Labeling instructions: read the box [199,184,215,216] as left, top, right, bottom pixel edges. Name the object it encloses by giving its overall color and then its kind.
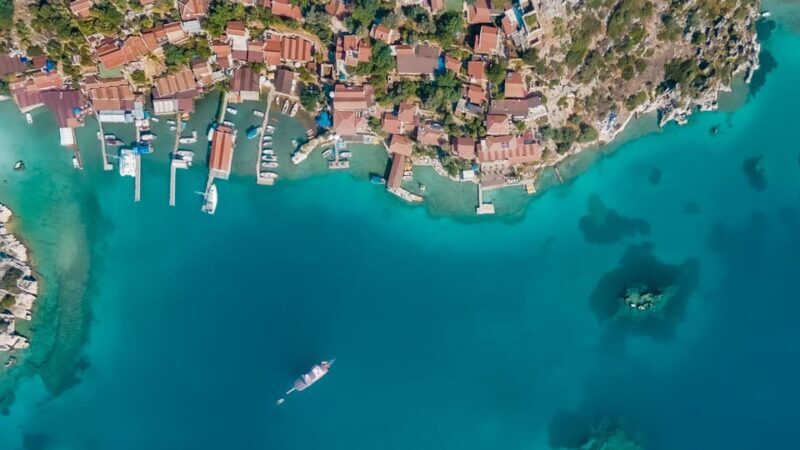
white boat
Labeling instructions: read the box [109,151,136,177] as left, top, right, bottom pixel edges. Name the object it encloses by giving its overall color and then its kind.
white boat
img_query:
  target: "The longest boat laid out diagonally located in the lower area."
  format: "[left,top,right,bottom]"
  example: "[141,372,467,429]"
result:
[287,365,334,393]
